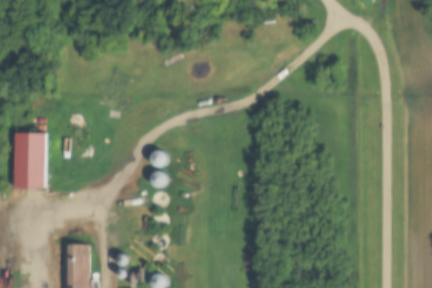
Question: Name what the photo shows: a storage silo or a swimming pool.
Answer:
storage silo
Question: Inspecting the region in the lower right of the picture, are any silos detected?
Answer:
No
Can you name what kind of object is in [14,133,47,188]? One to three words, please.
barn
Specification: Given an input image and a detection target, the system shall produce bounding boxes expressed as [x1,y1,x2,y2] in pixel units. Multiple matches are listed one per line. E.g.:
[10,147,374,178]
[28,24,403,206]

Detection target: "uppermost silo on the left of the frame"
[148,148,170,170]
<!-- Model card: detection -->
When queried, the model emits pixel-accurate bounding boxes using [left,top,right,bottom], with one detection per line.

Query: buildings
[14,133,47,188]
[66,245,91,288]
